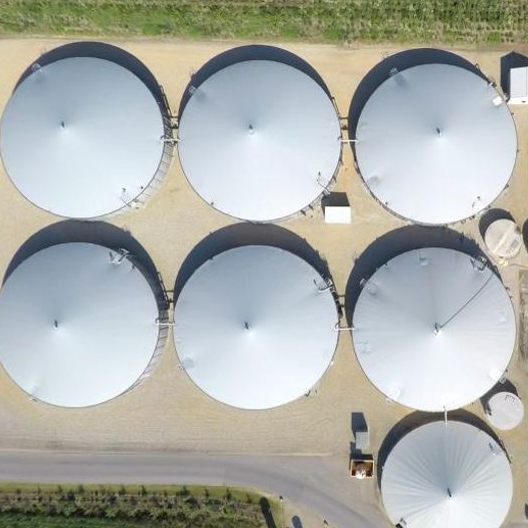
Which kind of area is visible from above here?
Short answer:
industrial area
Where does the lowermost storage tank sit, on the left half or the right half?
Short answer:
right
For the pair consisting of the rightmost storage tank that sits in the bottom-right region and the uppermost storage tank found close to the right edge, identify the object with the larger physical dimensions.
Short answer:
the uppermost storage tank found close to the right edge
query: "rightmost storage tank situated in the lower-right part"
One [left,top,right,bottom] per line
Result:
[485,389,523,428]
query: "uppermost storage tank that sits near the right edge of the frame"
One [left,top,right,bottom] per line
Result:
[355,63,520,228]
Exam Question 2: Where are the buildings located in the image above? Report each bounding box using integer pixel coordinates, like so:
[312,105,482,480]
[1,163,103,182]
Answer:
[506,66,528,101]
[313,192,352,224]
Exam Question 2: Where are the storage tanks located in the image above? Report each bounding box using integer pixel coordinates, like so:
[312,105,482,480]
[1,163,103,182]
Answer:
[178,59,343,225]
[381,415,513,528]
[173,245,341,410]
[355,63,520,228]
[483,219,521,264]
[352,247,519,412]
[0,241,168,408]
[485,389,523,428]
[0,55,173,222]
